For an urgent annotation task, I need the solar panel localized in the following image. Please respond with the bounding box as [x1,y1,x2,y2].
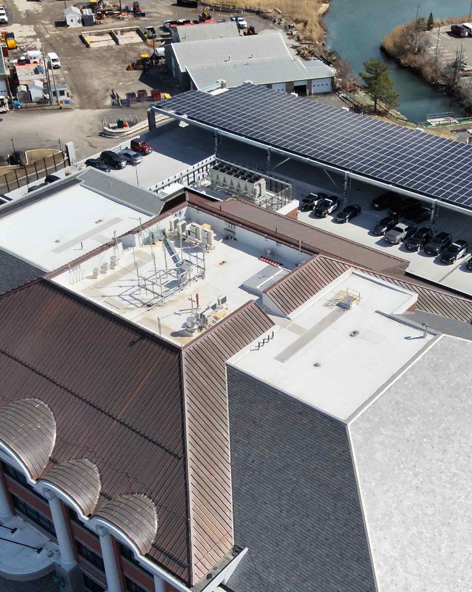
[156,82,472,204]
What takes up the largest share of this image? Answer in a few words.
buildings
